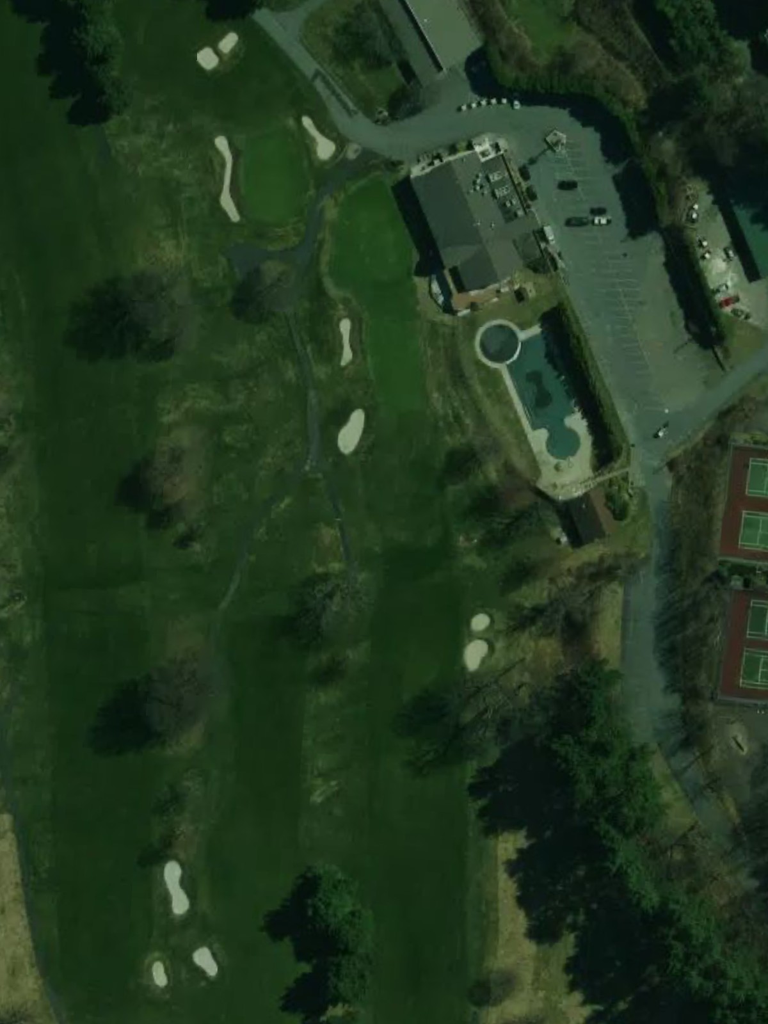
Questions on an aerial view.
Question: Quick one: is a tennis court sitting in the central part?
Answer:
No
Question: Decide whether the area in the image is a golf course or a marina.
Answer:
golf course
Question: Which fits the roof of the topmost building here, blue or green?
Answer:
green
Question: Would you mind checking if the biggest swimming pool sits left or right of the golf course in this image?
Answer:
right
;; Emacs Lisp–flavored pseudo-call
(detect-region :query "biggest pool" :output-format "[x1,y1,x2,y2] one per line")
[502,325,598,502]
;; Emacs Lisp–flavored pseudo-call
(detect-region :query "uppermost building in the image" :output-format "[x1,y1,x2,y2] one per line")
[406,0,483,69]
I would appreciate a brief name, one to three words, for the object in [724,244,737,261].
vehicle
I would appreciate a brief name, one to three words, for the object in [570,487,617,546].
building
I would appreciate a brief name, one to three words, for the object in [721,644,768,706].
tennis court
